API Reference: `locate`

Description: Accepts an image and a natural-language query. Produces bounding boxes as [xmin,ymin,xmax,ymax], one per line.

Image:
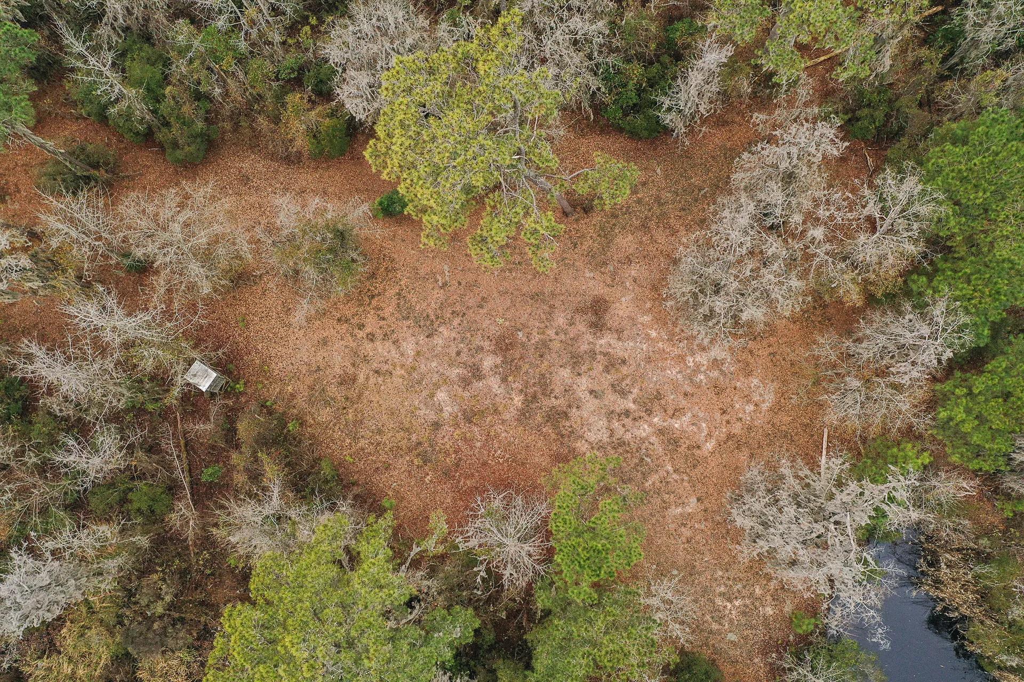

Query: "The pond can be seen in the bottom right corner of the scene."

[816,523,995,682]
